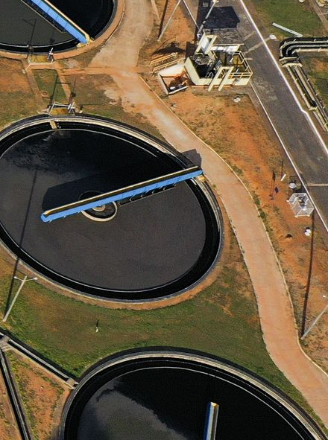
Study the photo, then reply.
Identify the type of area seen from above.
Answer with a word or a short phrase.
industrial area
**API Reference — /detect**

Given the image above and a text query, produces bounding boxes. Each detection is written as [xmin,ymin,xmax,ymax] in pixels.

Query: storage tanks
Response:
[0,0,122,59]
[52,348,328,440]
[0,114,229,310]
